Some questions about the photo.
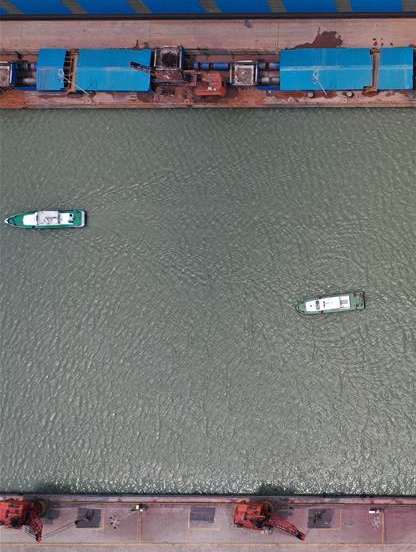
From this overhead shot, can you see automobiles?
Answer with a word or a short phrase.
No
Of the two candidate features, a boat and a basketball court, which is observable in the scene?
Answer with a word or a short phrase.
boat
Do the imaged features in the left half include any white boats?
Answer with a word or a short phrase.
Yes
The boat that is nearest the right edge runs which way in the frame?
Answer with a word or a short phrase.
from left to right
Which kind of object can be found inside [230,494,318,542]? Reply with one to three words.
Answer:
crane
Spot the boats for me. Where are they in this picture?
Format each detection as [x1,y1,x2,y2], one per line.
[3,210,89,229]
[296,292,368,315]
